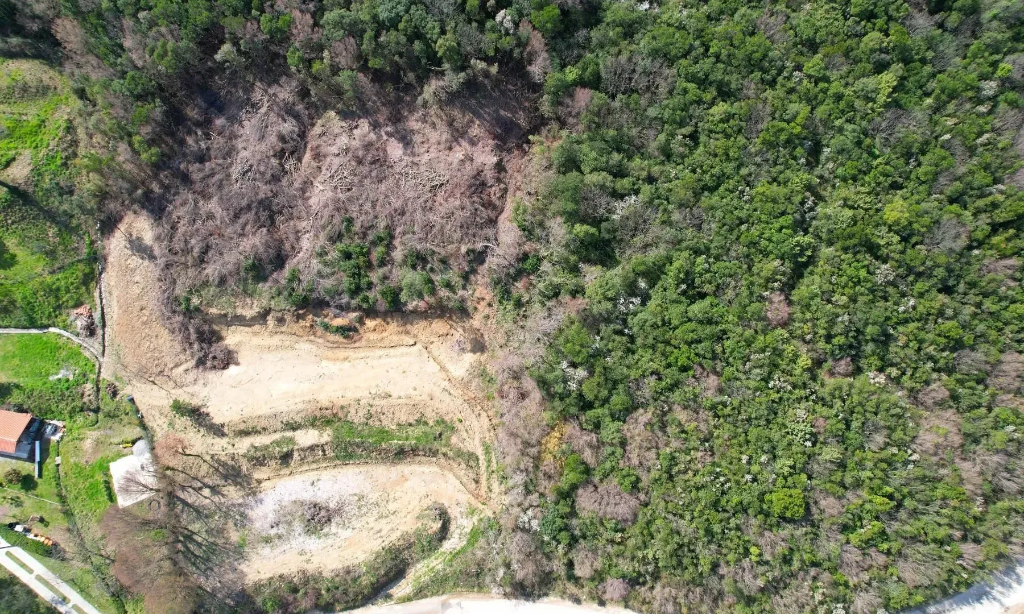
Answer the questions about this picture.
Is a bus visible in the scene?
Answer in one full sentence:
No, this view has no bus in it.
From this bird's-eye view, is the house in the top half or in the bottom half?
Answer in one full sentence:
The house is in the bottom half of the image.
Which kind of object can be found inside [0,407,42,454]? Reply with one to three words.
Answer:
house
